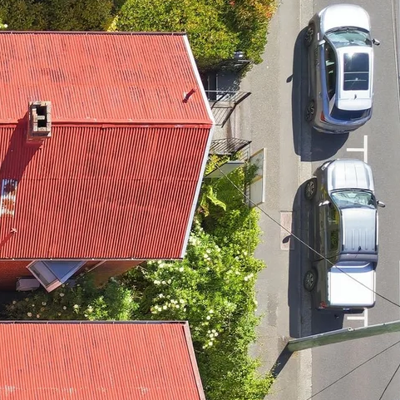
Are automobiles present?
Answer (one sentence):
Yes, the photo shows an automobile.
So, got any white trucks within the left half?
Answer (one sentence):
No, I can find no white truck within the left half.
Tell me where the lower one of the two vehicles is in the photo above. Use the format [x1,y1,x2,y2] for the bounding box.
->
[305,159,382,312]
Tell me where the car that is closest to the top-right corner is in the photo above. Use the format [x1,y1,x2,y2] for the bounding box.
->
[306,5,381,135]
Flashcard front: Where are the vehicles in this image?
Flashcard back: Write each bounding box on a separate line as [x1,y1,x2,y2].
[305,159,382,312]
[306,5,381,135]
